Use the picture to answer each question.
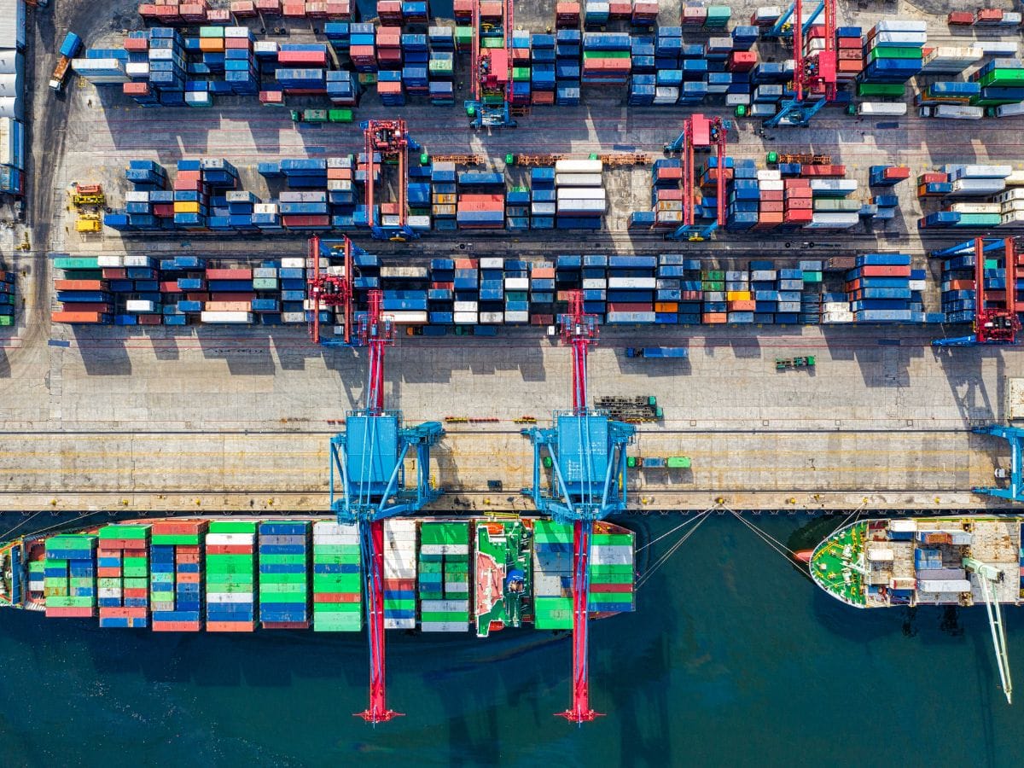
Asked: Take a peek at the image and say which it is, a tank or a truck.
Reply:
truck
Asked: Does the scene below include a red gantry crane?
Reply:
Yes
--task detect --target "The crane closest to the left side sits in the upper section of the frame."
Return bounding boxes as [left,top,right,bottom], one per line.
[306,237,373,349]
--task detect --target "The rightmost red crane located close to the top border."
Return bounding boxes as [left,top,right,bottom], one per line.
[764,0,838,129]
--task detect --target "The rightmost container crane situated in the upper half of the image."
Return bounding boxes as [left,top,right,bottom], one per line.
[932,237,1018,351]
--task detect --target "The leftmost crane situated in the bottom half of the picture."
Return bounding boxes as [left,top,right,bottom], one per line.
[330,290,450,735]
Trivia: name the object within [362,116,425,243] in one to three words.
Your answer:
container crane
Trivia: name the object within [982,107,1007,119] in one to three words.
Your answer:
vehicle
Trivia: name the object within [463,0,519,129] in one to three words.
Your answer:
container crane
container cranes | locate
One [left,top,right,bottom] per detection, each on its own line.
[306,237,373,349]
[330,290,450,735]
[664,112,735,243]
[521,290,631,735]
[362,116,425,243]
[974,431,1024,501]
[932,237,1018,351]
[764,0,838,129]
[463,0,519,129]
